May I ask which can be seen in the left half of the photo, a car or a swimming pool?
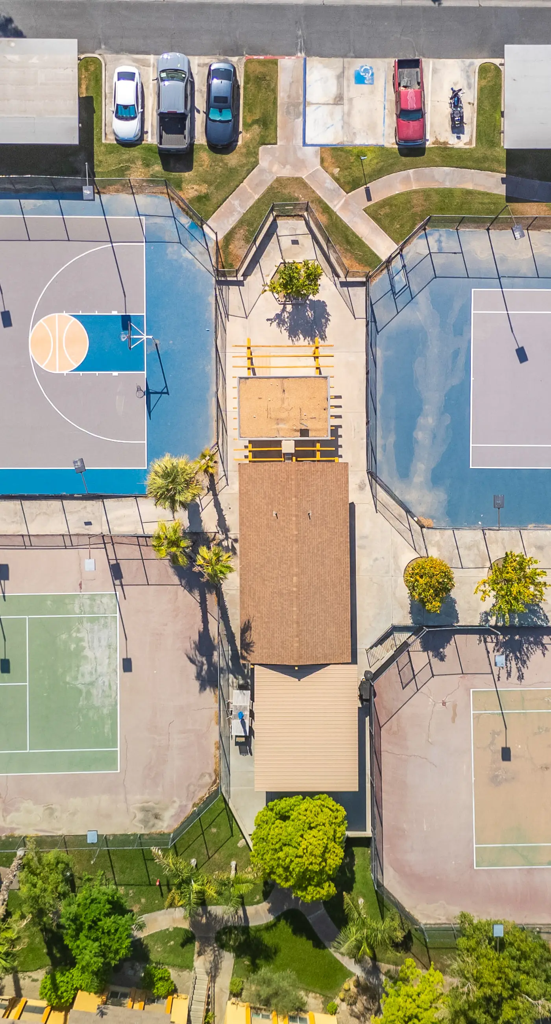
car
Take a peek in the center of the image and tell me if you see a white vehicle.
No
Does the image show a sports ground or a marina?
sports ground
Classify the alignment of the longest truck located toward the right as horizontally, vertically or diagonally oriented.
vertically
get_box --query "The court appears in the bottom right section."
[373,625,551,923]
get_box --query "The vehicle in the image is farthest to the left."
[108,66,145,143]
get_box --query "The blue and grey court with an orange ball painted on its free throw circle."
[0,194,216,493]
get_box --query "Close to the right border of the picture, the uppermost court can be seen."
[366,230,551,526]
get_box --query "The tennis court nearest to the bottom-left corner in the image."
[0,535,221,833]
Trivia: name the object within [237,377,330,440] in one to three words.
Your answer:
shed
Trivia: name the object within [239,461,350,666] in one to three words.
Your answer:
building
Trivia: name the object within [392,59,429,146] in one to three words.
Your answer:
truck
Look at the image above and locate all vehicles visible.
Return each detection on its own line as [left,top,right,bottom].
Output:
[202,63,241,148]
[450,86,466,124]
[108,66,145,143]
[392,59,429,146]
[153,53,194,156]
